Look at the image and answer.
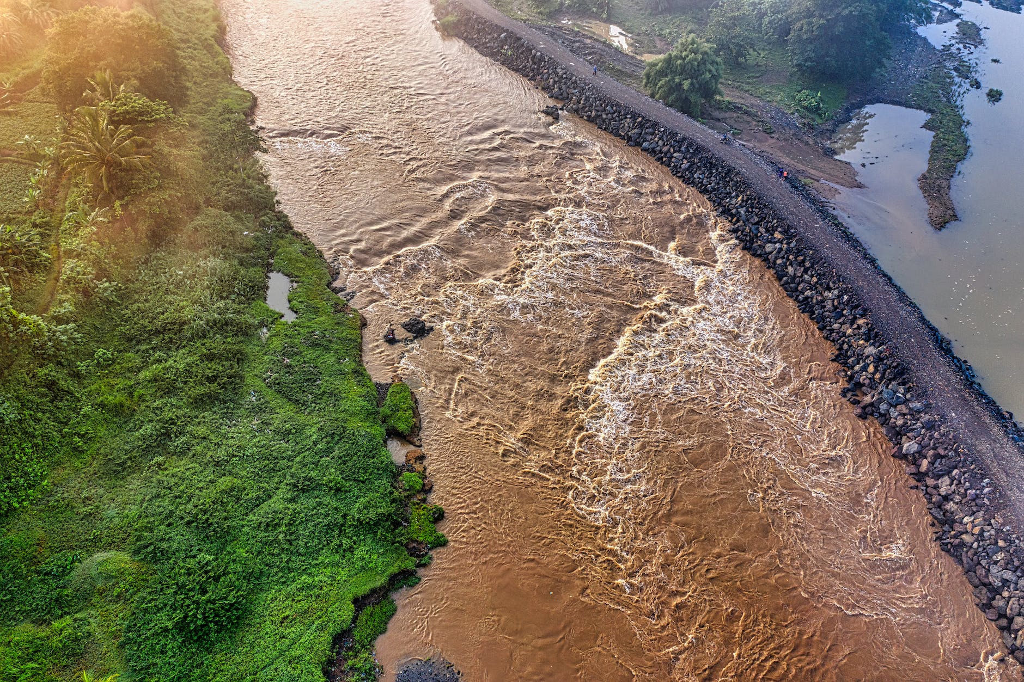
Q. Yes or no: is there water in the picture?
Yes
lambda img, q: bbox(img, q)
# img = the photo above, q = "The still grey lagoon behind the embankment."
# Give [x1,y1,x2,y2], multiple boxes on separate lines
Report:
[745,0,1024,422]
